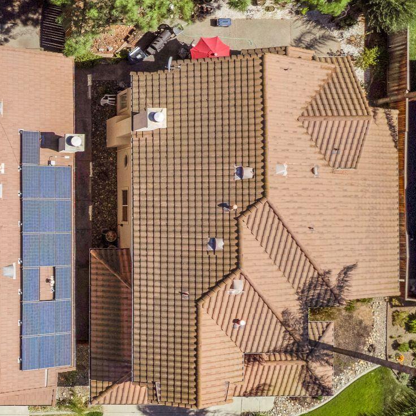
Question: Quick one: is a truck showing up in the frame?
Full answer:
No, the scene contains no truck.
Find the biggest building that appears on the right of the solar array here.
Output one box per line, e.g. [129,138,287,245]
[79,45,401,409]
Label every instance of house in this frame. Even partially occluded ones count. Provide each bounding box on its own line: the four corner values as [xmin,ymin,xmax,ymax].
[79,45,401,409]
[0,45,84,407]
